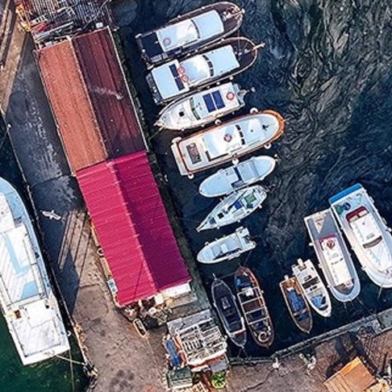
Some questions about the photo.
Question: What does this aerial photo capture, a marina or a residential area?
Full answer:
The area seen from above is a marina.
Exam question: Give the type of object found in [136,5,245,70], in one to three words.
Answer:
boat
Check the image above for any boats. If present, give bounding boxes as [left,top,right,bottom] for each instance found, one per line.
[136,5,245,70]
[293,260,332,316]
[200,155,279,197]
[155,83,255,128]
[280,277,310,333]
[236,267,272,346]
[0,175,71,364]
[214,274,246,346]
[198,182,268,230]
[304,208,357,301]
[171,112,286,177]
[147,35,265,106]
[198,228,256,261]
[329,182,392,289]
